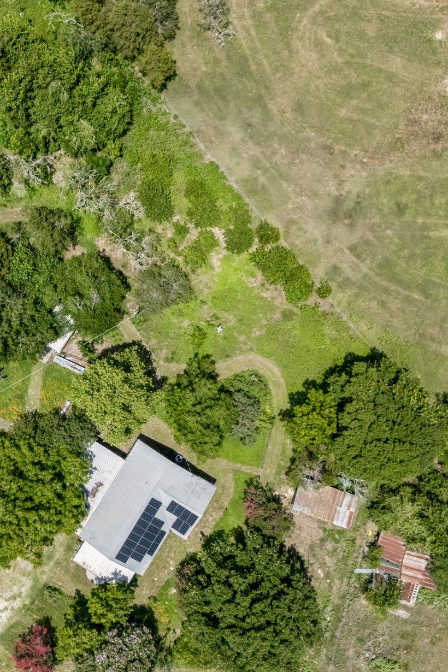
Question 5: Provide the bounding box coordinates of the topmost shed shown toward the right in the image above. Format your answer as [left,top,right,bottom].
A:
[291,484,356,529]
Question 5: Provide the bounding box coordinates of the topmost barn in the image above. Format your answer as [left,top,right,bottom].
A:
[45,308,79,364]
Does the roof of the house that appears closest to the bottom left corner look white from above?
Yes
